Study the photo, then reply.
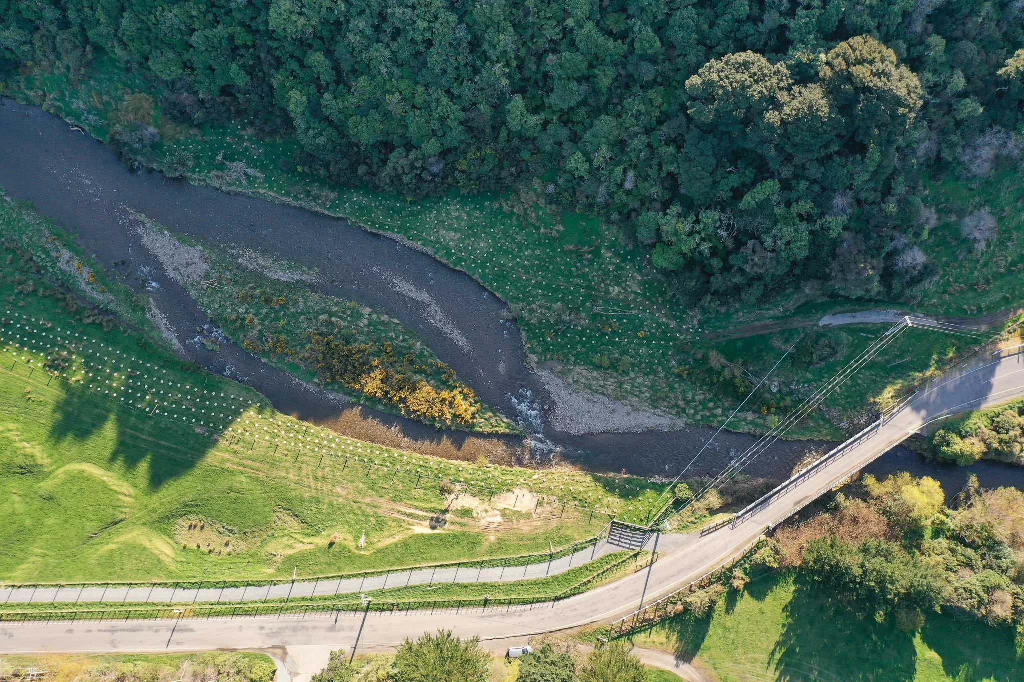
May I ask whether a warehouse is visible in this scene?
No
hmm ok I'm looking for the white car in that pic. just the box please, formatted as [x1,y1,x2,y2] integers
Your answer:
[509,645,531,658]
